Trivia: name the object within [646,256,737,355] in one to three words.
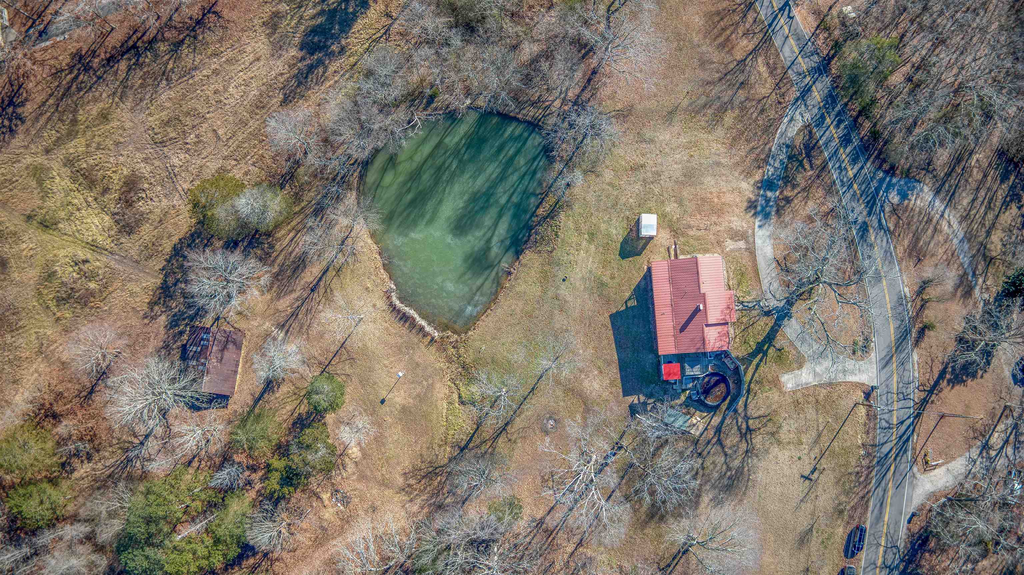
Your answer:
house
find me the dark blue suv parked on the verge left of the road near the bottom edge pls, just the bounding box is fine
[850,524,869,553]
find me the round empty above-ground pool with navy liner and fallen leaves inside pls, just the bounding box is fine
[697,371,732,405]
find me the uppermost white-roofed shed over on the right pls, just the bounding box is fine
[639,214,657,236]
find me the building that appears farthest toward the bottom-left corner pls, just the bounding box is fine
[182,325,251,395]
